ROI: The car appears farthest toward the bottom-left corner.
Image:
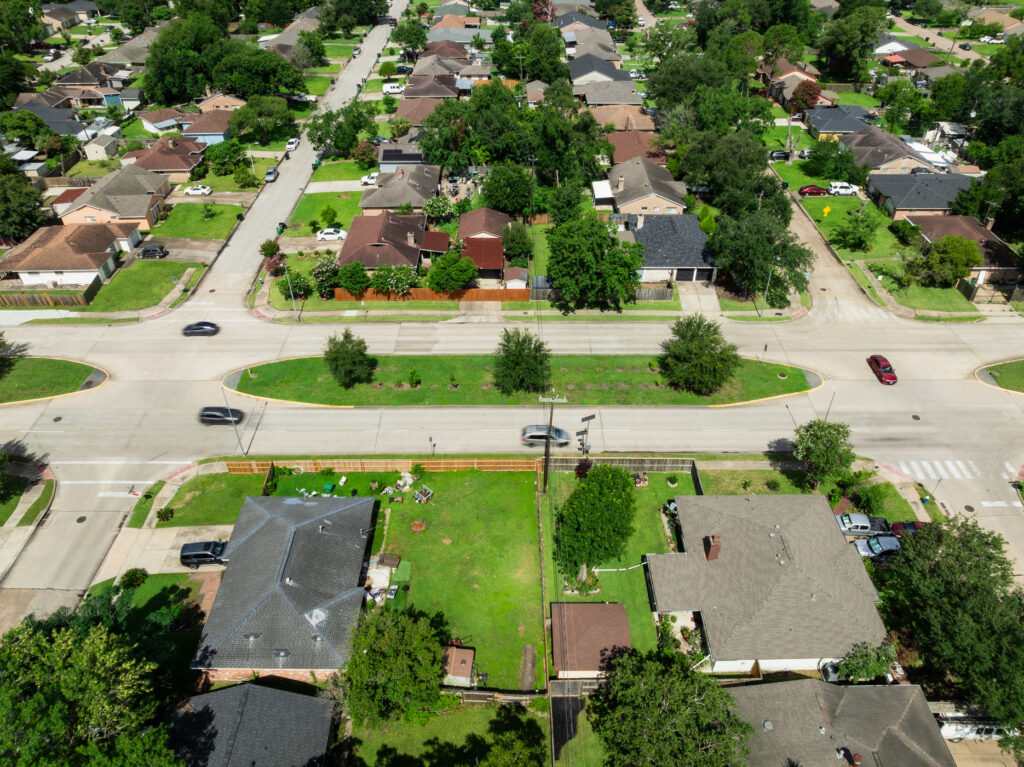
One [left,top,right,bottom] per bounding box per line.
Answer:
[175,541,232,568]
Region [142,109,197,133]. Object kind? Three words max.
building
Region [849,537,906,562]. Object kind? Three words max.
car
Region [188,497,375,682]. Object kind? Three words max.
house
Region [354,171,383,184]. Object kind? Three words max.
vehicle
